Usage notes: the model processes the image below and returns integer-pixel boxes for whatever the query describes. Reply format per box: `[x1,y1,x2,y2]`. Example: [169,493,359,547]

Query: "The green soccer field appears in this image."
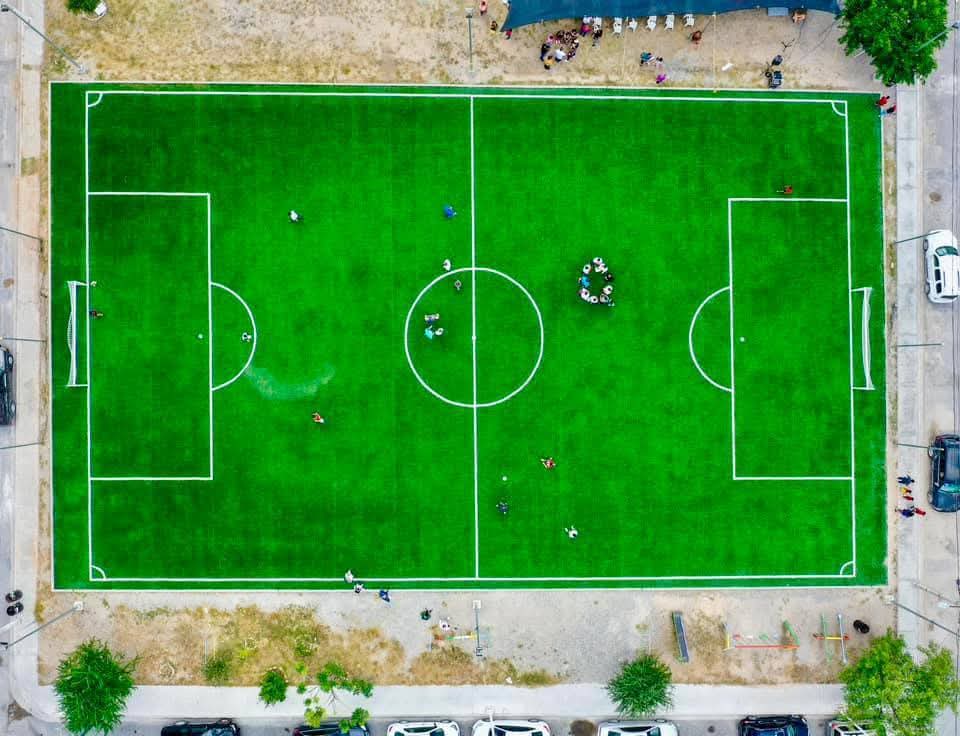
[49,82,888,592]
